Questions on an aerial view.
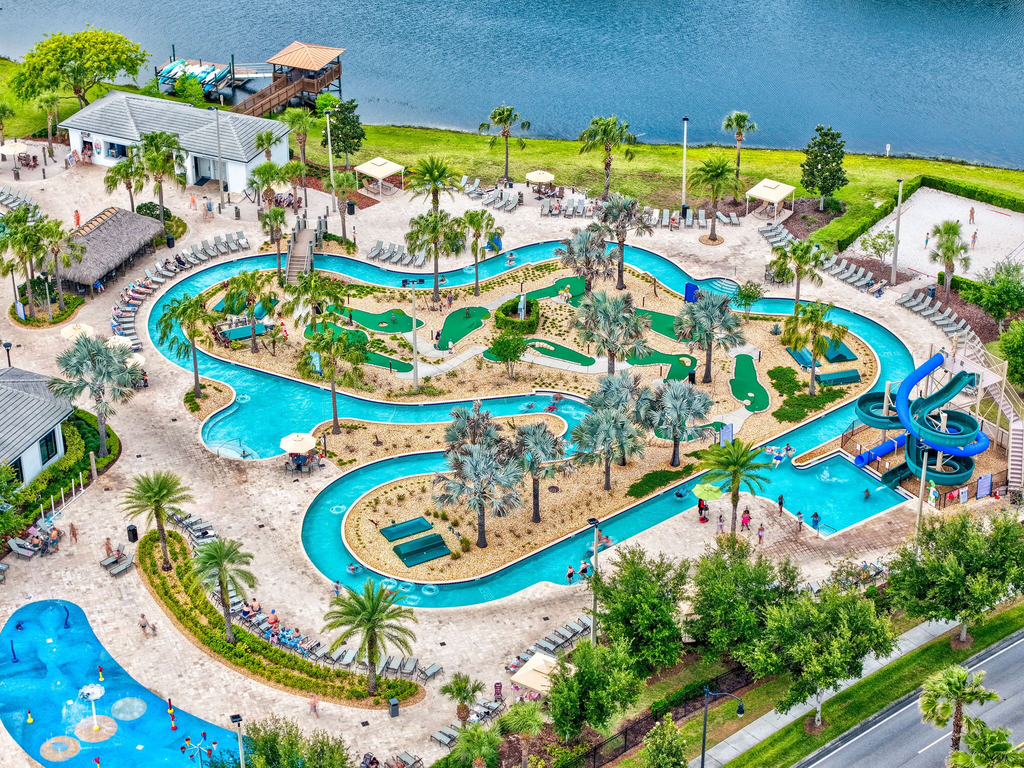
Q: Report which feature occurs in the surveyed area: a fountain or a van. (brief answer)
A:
fountain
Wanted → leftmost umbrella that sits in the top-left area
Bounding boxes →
[0,140,31,172]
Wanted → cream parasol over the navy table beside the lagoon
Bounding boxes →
[276,434,319,458]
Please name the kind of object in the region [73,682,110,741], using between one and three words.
fountain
